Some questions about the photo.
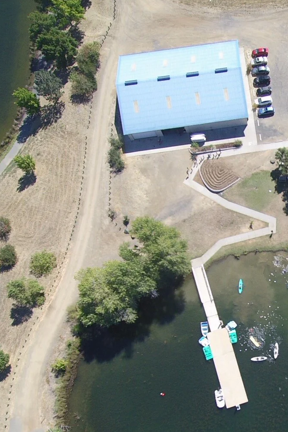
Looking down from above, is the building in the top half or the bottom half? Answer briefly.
top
